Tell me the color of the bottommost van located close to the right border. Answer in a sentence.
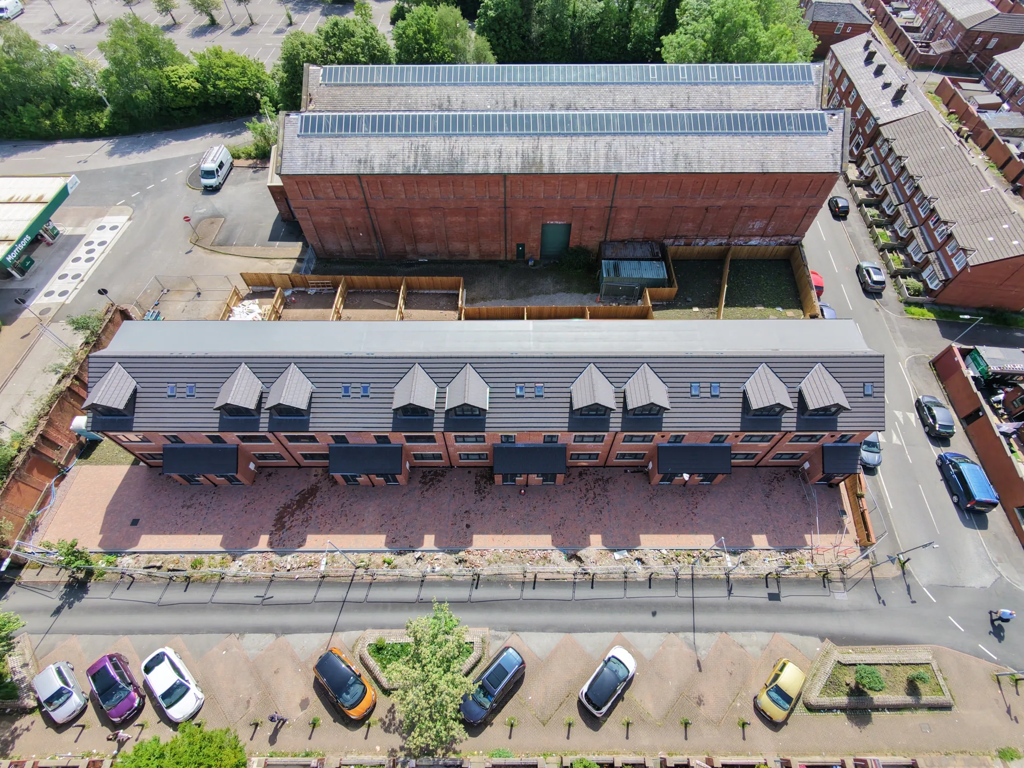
The bottommost van located close to the right border looks blue in the image.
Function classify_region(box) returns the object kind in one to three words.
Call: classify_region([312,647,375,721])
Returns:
car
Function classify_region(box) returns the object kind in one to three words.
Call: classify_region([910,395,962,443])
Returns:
car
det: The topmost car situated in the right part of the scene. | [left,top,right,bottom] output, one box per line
[826,196,852,221]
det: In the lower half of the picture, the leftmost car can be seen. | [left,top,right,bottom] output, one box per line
[30,654,91,728]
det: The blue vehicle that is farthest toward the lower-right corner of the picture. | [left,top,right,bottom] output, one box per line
[933,456,1008,515]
